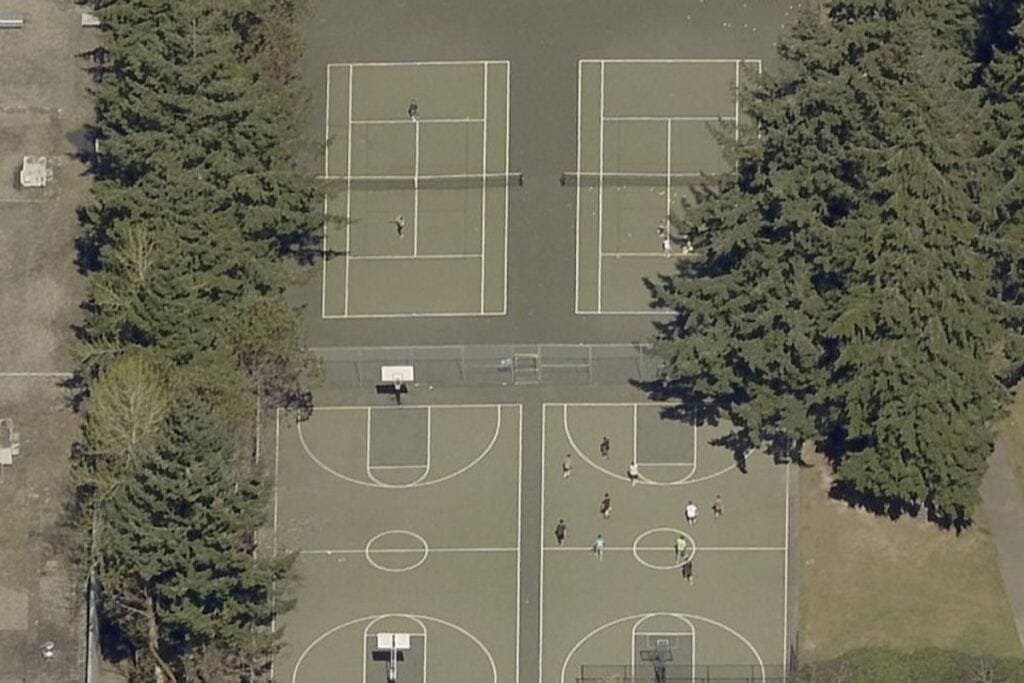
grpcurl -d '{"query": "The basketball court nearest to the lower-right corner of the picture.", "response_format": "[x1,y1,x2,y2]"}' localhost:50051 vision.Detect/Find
[539,401,788,683]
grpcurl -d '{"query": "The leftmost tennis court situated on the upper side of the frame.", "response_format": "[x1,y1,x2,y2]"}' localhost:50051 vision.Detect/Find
[323,61,509,317]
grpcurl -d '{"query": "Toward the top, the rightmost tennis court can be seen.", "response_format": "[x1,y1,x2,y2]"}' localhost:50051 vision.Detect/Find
[576,58,761,313]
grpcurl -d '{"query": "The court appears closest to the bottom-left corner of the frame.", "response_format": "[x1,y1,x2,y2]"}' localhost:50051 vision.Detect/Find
[271,405,522,683]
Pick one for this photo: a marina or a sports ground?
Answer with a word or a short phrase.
sports ground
